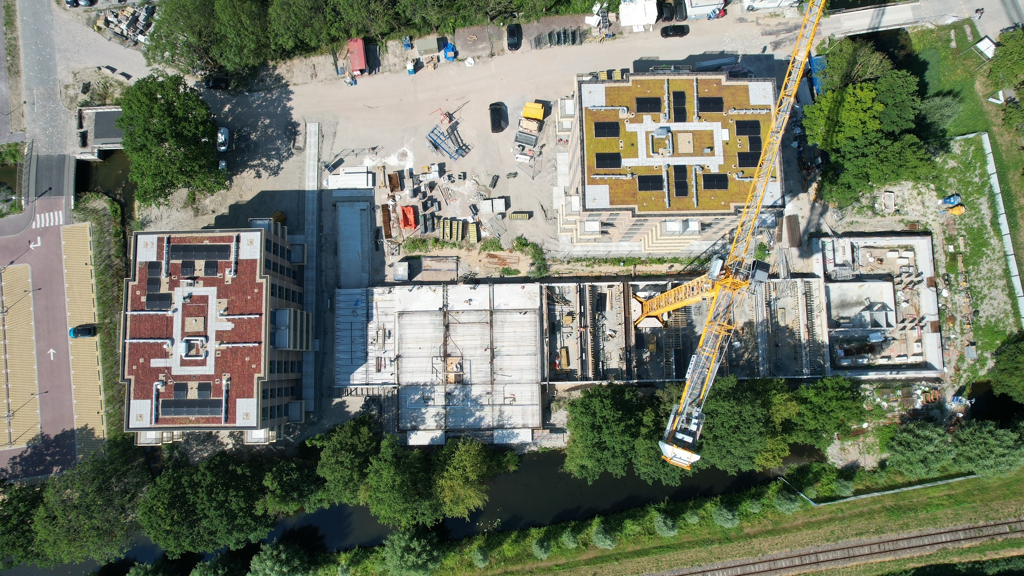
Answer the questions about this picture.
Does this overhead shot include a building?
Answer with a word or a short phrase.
Yes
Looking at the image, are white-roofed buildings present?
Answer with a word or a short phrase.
Yes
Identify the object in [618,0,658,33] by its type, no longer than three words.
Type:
building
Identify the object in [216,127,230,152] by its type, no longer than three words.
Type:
car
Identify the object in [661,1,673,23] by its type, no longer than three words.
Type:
vehicle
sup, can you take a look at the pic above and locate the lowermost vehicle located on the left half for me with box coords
[70,326,96,339]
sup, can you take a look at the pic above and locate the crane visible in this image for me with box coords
[635,0,825,472]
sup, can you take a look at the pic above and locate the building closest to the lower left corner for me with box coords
[116,219,314,445]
